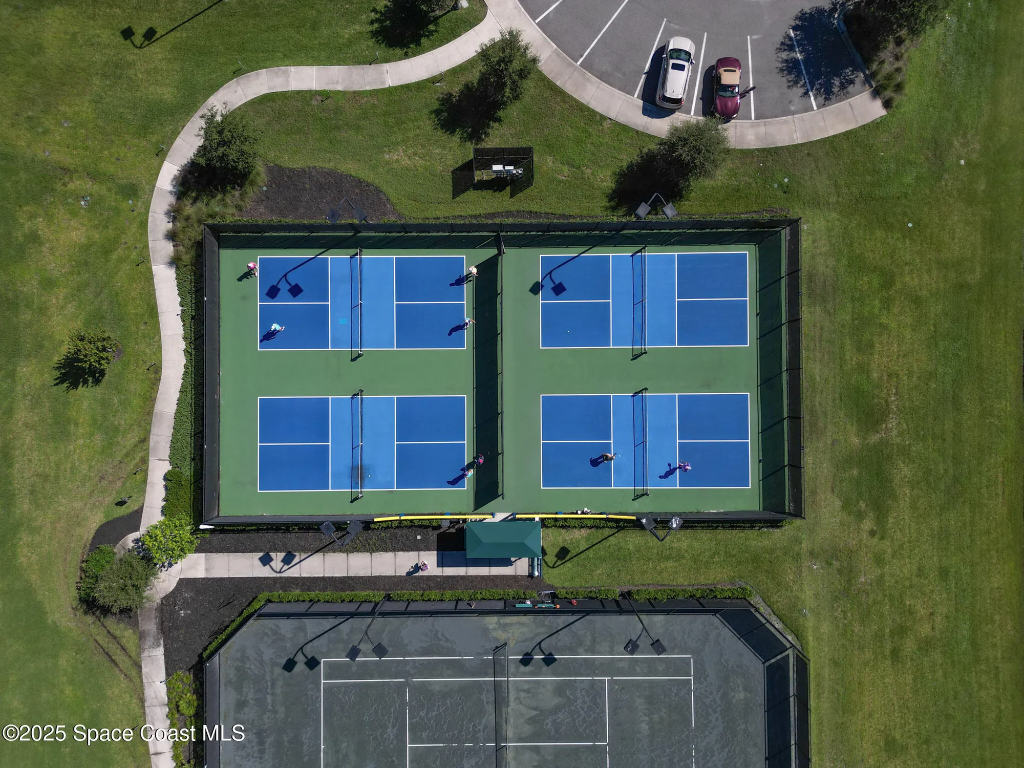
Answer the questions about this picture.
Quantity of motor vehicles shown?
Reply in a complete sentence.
The photo contains 2 motor vehicles.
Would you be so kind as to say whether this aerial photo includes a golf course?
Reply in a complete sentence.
No, no golf course is visible in the view.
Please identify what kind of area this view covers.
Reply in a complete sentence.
It's a sports ground.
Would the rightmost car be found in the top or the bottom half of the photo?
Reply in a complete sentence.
The top half of the photo is where the rightmost car is.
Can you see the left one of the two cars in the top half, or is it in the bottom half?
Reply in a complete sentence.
You can find the left one of the two cars in the top half.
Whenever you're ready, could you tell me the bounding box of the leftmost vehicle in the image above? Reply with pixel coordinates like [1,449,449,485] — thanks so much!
[655,35,696,112]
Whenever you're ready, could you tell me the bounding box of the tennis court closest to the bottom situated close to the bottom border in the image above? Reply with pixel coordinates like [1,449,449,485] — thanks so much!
[218,596,798,768]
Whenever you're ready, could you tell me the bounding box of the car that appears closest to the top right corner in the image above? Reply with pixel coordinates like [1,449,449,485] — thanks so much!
[711,58,757,122]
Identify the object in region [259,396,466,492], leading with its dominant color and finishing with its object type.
blue sports court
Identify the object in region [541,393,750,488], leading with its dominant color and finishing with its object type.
blue sports court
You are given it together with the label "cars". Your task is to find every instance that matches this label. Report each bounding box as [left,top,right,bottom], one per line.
[711,58,757,122]
[655,35,696,112]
